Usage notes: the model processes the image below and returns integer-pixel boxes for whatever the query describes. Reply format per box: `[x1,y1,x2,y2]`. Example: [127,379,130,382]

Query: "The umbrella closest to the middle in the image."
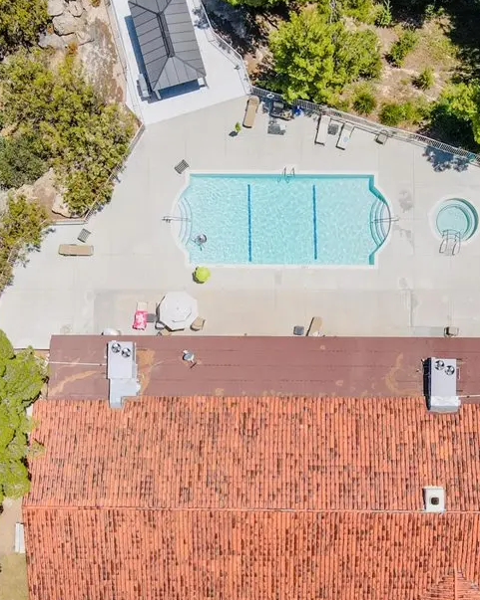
[193,267,208,281]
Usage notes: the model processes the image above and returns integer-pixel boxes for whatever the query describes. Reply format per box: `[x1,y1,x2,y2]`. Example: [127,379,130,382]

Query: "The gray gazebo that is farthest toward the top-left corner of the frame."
[128,0,210,104]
